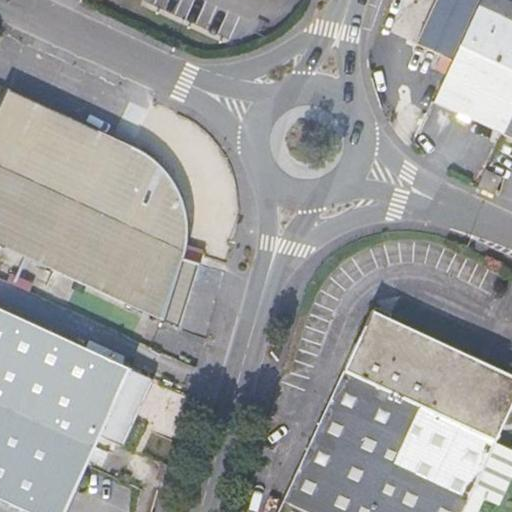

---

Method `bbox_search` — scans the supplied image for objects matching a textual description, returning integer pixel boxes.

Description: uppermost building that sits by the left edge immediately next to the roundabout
[0,89,190,321]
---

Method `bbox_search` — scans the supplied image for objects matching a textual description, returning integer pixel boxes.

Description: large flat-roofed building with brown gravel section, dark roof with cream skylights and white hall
[275,307,512,512]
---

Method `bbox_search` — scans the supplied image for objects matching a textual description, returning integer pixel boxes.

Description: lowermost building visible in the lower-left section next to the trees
[0,302,154,512]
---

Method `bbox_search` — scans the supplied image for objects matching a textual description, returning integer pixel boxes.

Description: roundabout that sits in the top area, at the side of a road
[178,20,440,266]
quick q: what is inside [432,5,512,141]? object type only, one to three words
building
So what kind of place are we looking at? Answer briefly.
industrial area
